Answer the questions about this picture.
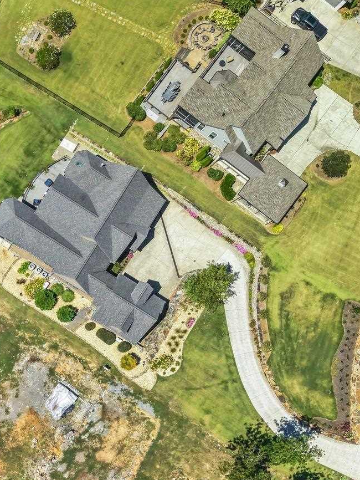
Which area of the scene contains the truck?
top right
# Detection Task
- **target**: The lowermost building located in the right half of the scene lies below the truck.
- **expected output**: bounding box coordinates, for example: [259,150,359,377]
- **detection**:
[232,156,308,228]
